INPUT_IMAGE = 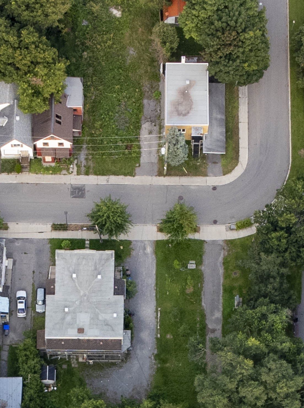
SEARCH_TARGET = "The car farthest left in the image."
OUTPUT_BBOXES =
[14,290,28,318]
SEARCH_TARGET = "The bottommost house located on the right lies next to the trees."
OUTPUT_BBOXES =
[164,53,225,160]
